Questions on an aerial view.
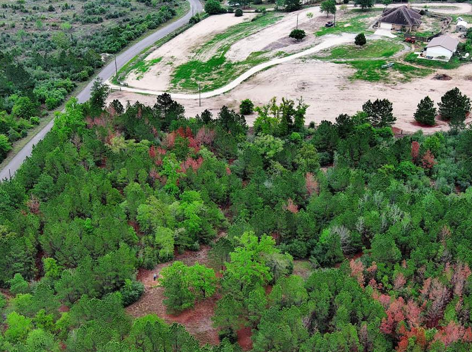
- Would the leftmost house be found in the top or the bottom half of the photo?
top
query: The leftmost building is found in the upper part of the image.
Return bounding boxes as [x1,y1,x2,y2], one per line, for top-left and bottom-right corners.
[378,7,433,33]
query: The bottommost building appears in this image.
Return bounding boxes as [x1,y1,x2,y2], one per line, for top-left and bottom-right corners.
[424,34,461,59]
